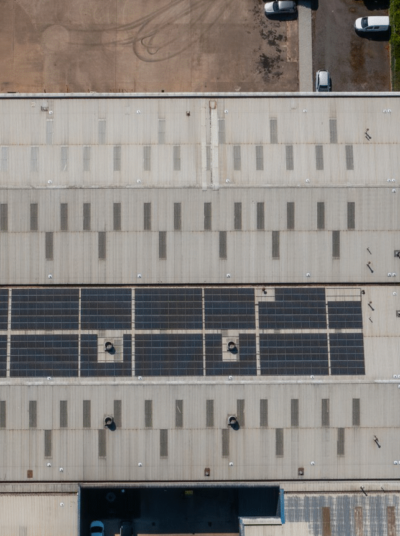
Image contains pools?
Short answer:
No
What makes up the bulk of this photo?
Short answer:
buildings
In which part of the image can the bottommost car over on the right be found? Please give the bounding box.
[315,70,330,91]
